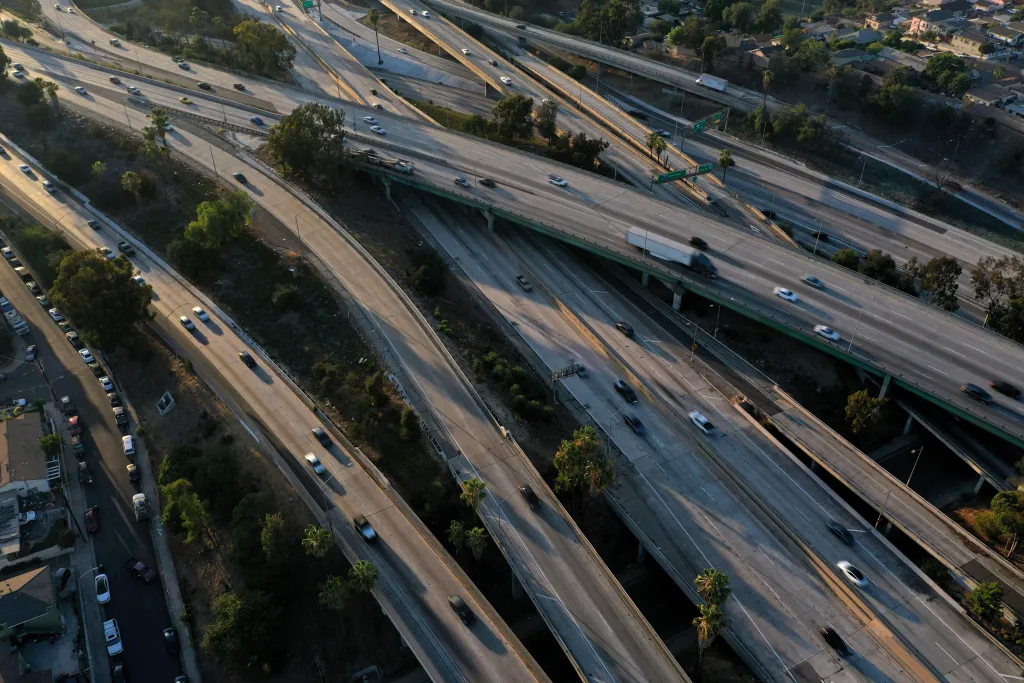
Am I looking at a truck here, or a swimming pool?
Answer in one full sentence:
Visible in the photo is a truck.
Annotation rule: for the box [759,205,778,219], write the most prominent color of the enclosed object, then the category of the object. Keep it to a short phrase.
black car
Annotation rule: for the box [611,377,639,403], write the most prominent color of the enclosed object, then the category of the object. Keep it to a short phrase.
black truck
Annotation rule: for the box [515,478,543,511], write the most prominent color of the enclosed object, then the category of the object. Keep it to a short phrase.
black car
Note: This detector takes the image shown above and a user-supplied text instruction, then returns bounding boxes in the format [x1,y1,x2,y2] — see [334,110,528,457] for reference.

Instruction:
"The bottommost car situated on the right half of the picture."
[814,619,857,663]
